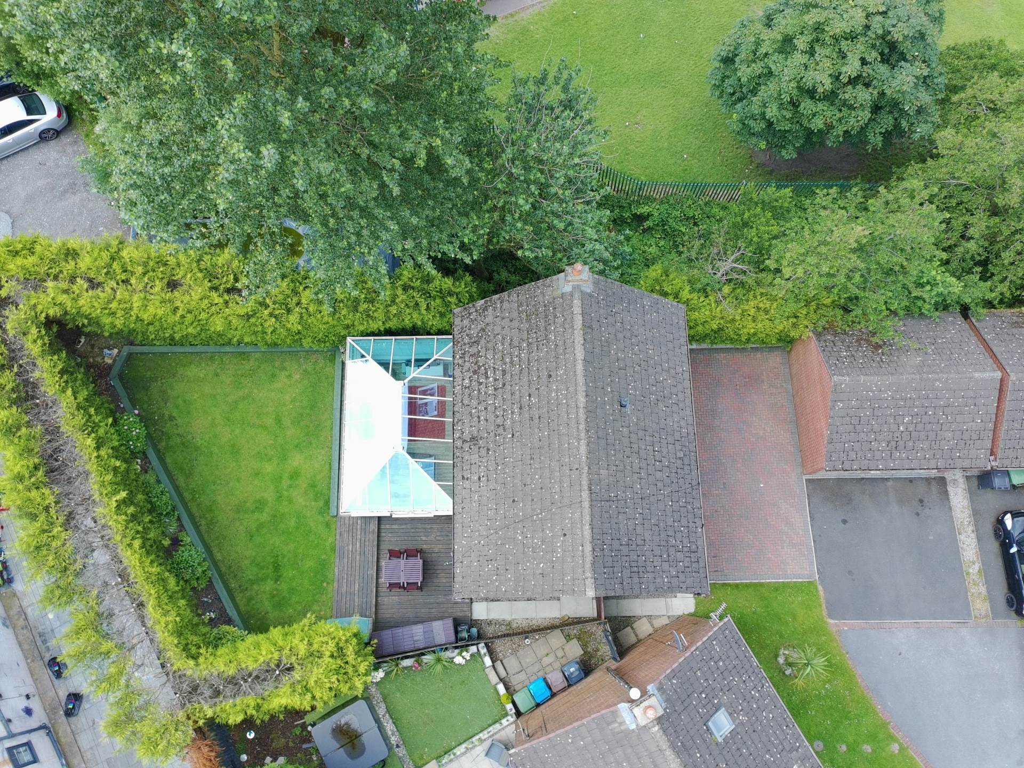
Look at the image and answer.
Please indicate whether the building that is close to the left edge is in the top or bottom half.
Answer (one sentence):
Seen from above, the building that is close to the left edge lies in the bottom half of the view.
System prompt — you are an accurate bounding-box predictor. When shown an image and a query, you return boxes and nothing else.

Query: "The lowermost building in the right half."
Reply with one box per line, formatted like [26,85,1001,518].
[506,608,831,768]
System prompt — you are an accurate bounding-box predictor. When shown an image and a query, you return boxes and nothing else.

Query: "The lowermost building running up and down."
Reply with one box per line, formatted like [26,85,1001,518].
[0,592,88,768]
